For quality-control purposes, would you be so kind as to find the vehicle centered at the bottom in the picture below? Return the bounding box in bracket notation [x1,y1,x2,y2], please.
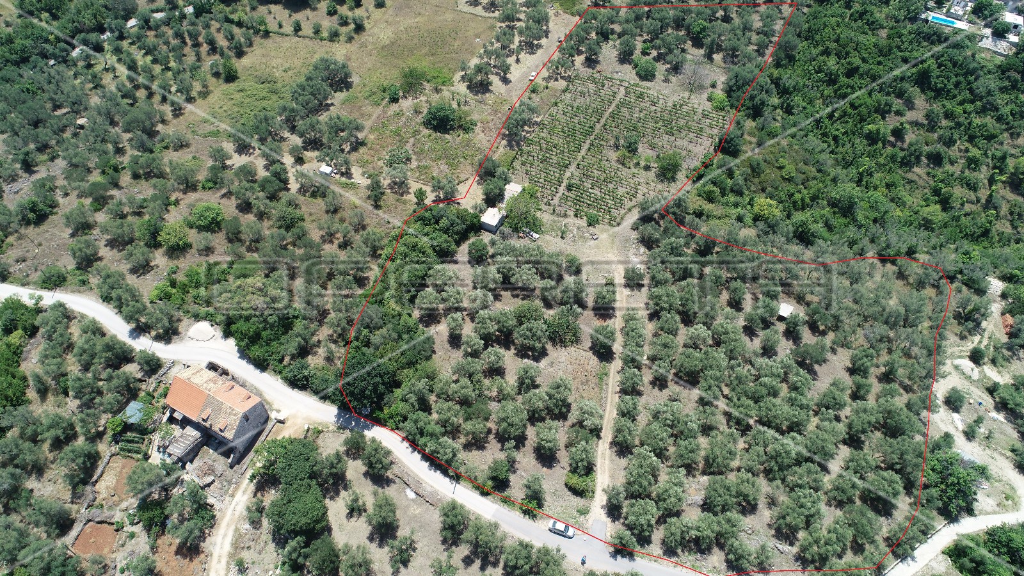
[547,520,575,538]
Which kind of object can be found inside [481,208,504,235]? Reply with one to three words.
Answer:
shed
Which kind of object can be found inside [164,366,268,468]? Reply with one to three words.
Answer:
house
